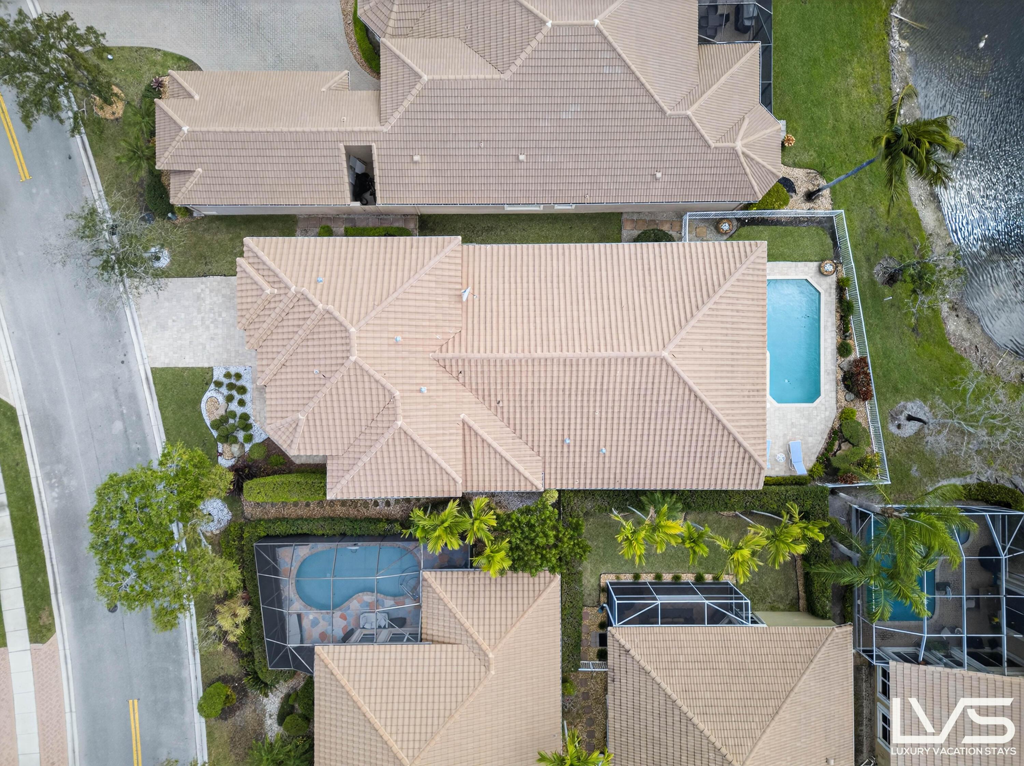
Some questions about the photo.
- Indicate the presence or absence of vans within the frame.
No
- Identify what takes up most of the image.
buildings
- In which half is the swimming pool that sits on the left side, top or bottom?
bottom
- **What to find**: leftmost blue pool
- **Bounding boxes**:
[291,543,423,616]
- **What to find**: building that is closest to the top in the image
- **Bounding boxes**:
[153,0,784,220]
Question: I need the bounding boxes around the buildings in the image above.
[606,612,860,766]
[153,0,784,220]
[235,234,770,502]
[311,567,564,766]
[870,573,1024,766]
